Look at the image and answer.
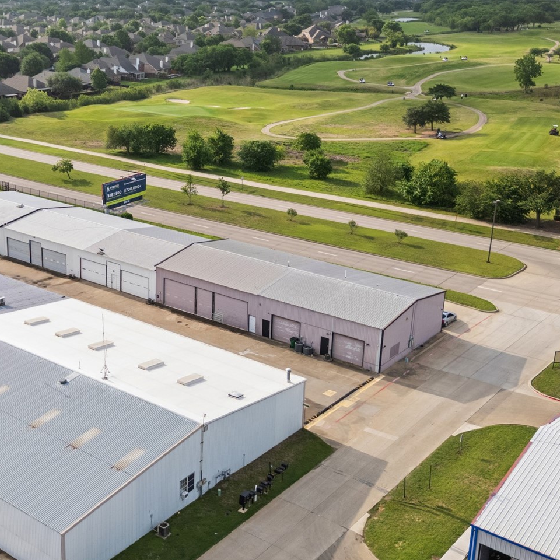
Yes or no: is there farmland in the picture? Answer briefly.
No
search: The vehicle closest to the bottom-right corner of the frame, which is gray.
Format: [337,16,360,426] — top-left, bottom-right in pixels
[442,308,456,326]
